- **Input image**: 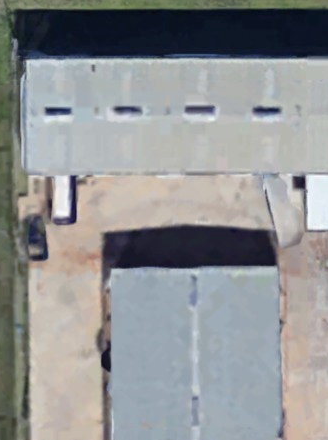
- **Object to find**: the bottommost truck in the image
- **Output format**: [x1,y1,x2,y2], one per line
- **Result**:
[25,217,48,260]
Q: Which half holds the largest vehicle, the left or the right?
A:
left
